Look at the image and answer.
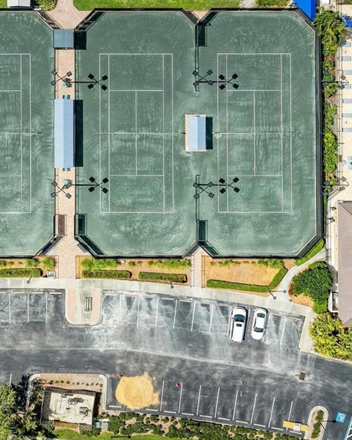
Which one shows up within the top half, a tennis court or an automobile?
tennis court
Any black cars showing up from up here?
No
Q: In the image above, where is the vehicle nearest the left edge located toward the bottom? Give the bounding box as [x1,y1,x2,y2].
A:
[229,307,247,342]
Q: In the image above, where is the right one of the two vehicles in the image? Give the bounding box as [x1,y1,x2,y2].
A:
[250,307,267,340]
